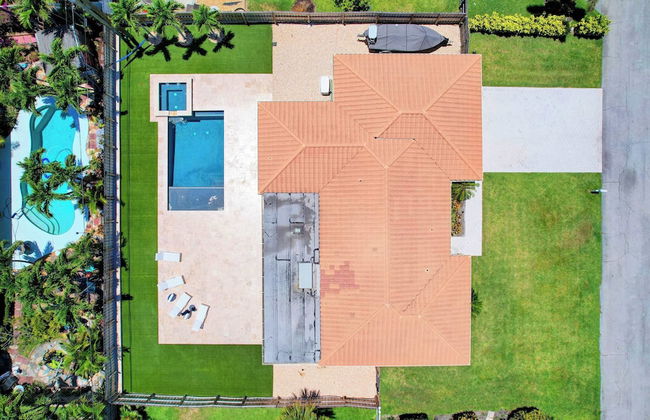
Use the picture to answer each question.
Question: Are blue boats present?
No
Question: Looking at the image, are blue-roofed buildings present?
No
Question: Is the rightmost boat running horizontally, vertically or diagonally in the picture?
horizontally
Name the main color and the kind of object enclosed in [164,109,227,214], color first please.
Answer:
blue swimming pool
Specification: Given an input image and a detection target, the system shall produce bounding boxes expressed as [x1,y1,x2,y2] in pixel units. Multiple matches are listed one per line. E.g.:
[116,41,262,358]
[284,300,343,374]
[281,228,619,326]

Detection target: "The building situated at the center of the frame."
[256,53,484,367]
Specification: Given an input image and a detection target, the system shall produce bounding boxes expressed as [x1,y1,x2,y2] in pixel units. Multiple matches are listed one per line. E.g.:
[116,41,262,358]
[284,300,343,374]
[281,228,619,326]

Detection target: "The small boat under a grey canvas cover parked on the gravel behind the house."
[356,26,449,53]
